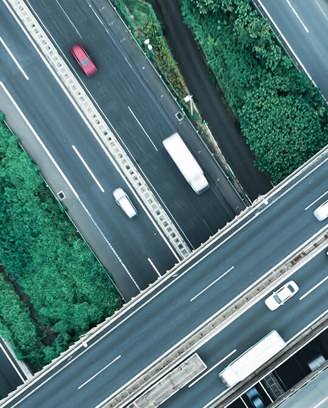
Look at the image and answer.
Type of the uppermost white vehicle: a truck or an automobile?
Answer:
truck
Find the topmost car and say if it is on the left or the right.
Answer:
left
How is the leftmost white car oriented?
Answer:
at an angle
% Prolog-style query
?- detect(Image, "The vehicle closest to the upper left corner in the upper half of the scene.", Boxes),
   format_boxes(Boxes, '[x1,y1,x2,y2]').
[71,42,96,77]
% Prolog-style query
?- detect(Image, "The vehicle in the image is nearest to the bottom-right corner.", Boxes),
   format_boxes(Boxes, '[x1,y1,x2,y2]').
[304,347,321,366]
